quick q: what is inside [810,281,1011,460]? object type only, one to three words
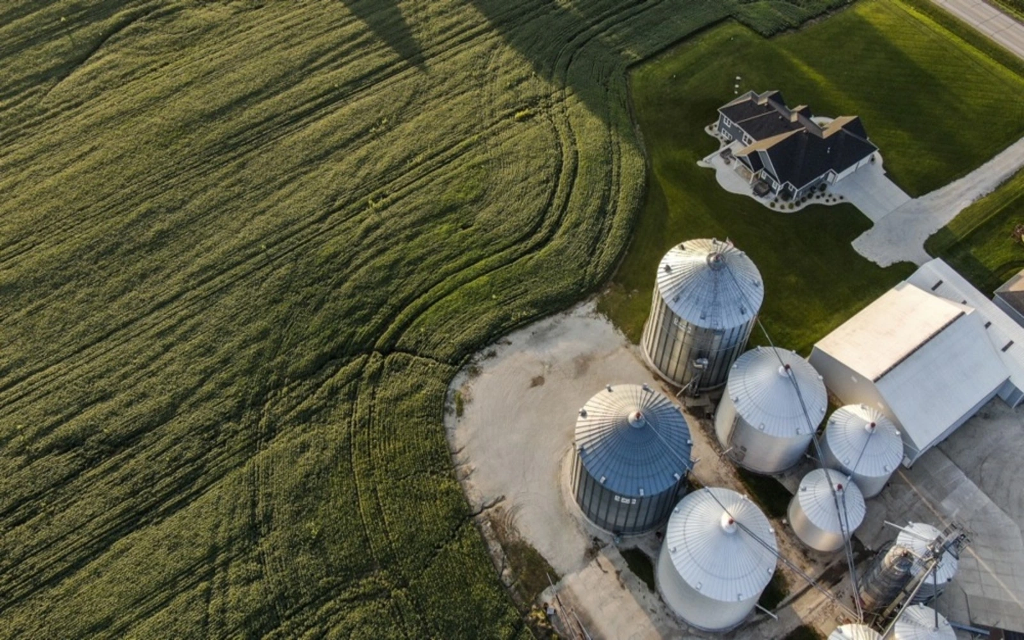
barn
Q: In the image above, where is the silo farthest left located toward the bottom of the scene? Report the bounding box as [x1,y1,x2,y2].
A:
[564,383,695,538]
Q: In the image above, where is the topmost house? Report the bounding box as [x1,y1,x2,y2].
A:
[716,89,879,203]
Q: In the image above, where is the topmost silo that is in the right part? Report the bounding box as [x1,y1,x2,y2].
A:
[642,235,765,390]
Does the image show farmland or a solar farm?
farmland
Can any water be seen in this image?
No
